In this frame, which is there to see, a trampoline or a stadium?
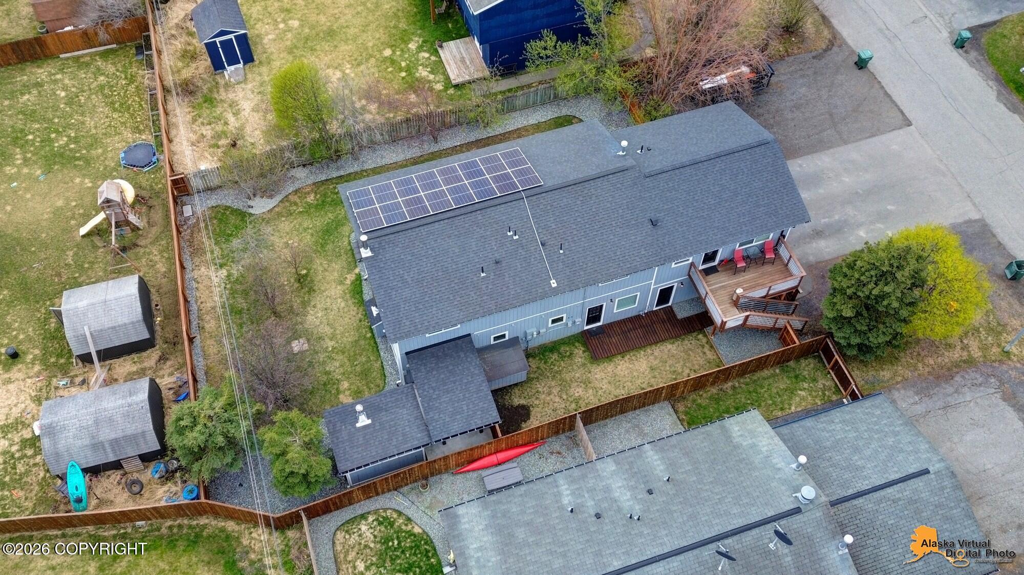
trampoline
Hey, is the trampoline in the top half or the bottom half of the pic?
top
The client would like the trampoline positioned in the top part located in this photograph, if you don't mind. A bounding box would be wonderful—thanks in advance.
[119,139,160,176]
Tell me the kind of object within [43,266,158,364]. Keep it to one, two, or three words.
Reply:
shed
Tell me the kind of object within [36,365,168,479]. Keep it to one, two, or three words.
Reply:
shed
